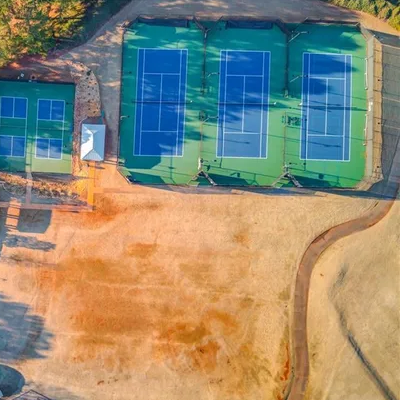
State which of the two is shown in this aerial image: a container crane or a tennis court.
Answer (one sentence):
Of the two, only a tennis court appears.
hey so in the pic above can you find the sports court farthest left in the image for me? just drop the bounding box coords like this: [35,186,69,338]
[0,82,32,172]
